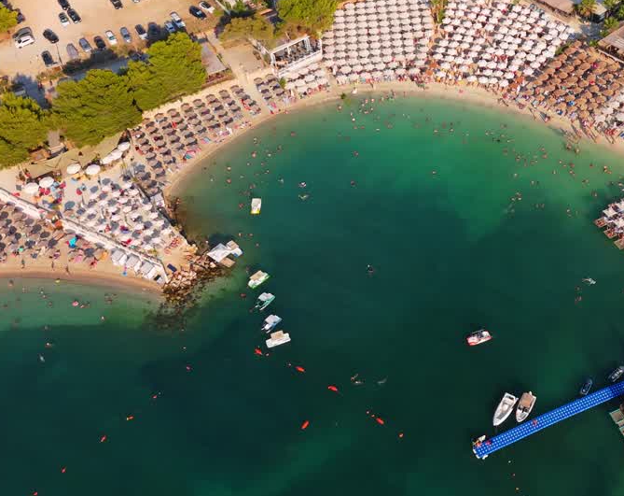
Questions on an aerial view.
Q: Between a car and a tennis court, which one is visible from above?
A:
car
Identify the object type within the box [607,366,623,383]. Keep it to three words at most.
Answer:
boat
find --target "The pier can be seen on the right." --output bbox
[467,383,624,459]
